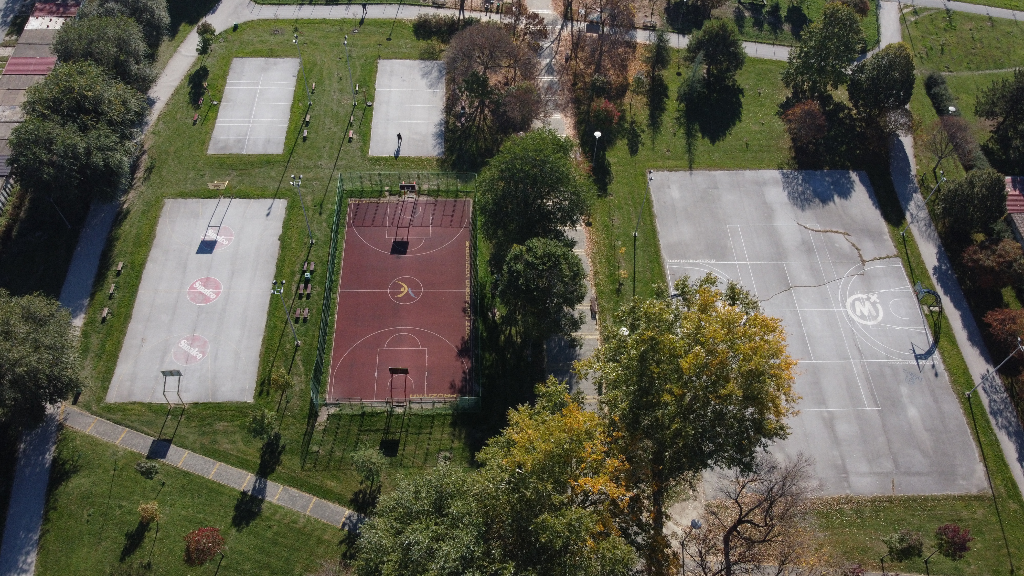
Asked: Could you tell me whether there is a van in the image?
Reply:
No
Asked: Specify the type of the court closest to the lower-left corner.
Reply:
basketball court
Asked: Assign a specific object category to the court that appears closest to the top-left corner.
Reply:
tennis court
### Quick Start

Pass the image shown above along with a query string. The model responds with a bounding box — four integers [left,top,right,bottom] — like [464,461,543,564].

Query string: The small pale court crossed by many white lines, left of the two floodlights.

[208,57,300,154]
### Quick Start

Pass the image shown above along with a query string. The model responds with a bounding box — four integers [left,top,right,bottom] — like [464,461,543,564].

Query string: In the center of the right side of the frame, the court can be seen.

[649,170,987,497]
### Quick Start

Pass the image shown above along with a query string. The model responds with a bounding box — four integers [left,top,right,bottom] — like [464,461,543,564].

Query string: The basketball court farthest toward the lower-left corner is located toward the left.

[106,199,287,403]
